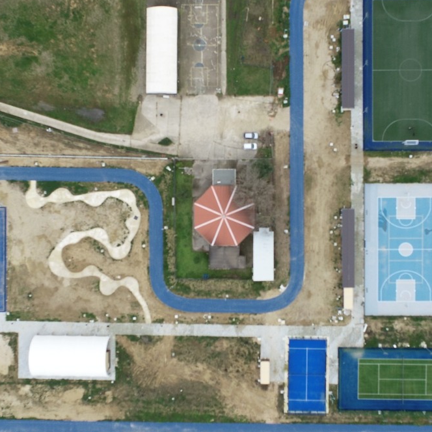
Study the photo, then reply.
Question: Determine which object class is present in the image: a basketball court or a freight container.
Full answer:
It is a basketball court that can be seen here.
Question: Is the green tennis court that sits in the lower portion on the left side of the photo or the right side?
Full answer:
The green tennis court that sits in the lower portion appears in the right half of the scene.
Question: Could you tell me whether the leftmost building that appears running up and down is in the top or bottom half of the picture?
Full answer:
The leftmost building that appears running up and down sits in the top half of the picture.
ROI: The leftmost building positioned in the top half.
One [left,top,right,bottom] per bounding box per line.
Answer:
[147,3,180,96]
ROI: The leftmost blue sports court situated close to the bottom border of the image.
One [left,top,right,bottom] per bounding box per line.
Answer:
[285,337,329,414]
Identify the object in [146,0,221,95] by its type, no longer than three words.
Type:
basketball court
